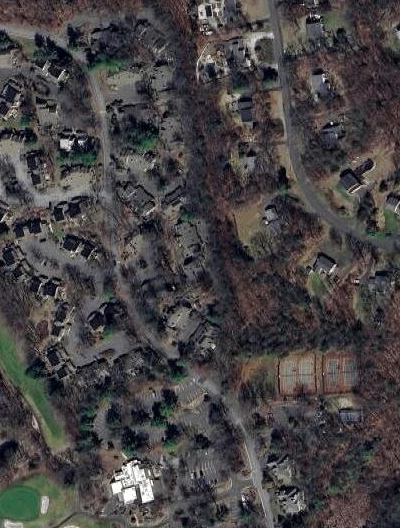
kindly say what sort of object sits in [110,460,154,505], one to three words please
building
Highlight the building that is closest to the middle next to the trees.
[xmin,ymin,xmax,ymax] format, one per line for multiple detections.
[173,221,204,260]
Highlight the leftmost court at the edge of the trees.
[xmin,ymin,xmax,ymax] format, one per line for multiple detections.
[280,352,298,394]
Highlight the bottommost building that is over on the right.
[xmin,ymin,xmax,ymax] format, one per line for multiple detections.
[280,489,303,515]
